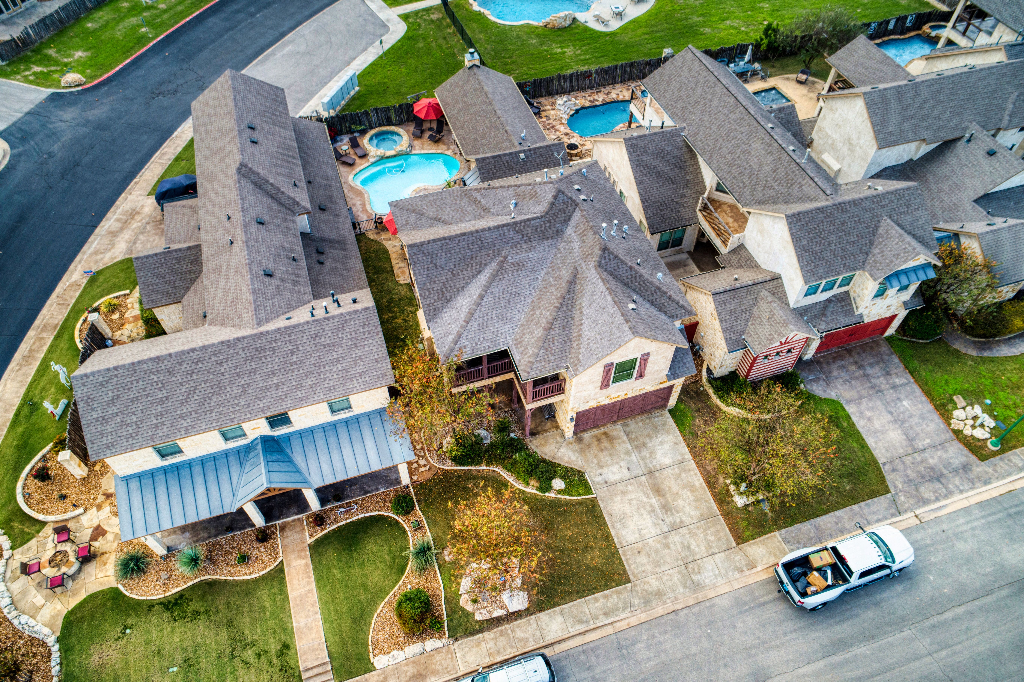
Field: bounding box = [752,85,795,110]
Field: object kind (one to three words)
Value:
swimming pool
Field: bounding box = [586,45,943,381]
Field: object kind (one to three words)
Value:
house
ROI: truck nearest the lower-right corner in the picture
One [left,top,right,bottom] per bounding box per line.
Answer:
[768,523,912,611]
